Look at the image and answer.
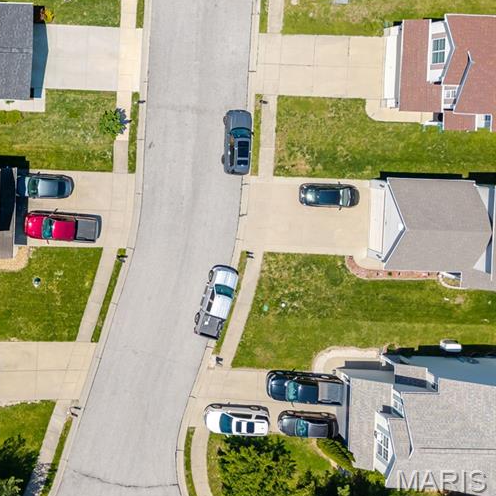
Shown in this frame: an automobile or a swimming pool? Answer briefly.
automobile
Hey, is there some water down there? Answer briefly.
No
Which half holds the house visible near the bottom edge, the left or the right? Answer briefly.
right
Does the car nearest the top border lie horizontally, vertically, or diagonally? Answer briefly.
vertically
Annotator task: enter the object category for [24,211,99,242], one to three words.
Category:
truck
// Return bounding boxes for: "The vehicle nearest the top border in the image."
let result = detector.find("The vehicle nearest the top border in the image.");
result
[220,110,254,174]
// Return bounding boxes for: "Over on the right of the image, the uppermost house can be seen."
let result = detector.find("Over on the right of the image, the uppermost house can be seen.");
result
[383,14,496,133]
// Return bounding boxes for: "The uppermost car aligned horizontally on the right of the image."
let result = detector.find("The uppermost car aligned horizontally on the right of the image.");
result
[296,182,357,210]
